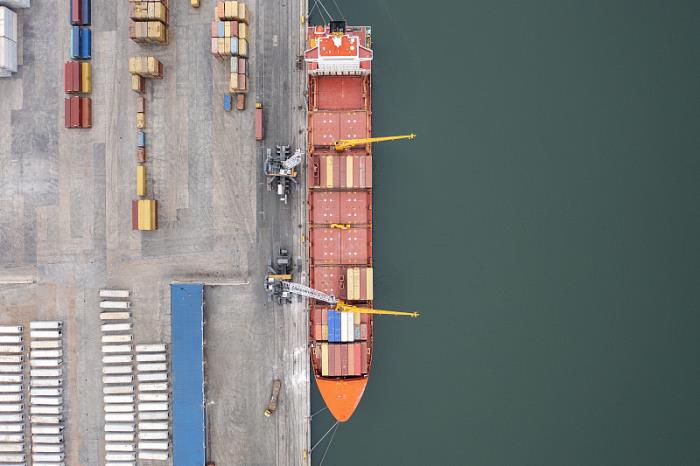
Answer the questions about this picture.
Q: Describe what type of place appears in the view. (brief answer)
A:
port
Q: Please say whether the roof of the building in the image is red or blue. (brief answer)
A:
blue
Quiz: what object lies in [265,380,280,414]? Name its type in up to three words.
vehicle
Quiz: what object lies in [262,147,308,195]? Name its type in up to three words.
crane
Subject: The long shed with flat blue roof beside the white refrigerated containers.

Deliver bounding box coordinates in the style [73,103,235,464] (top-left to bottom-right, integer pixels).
[170,283,206,466]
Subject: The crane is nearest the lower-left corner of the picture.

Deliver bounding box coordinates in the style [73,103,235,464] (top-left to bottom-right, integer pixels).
[263,251,343,306]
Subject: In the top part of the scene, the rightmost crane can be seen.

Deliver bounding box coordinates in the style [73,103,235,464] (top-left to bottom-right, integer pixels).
[335,134,416,153]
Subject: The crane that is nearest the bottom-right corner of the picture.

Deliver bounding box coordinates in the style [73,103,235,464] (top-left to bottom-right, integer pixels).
[334,297,420,316]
